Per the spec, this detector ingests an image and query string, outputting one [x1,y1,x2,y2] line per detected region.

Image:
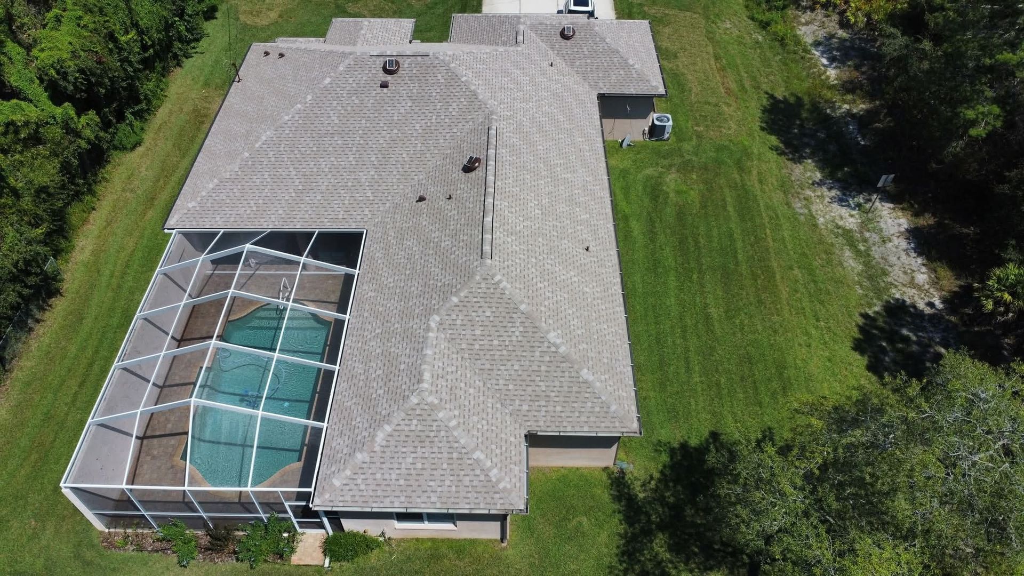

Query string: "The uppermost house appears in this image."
[161,14,666,544]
